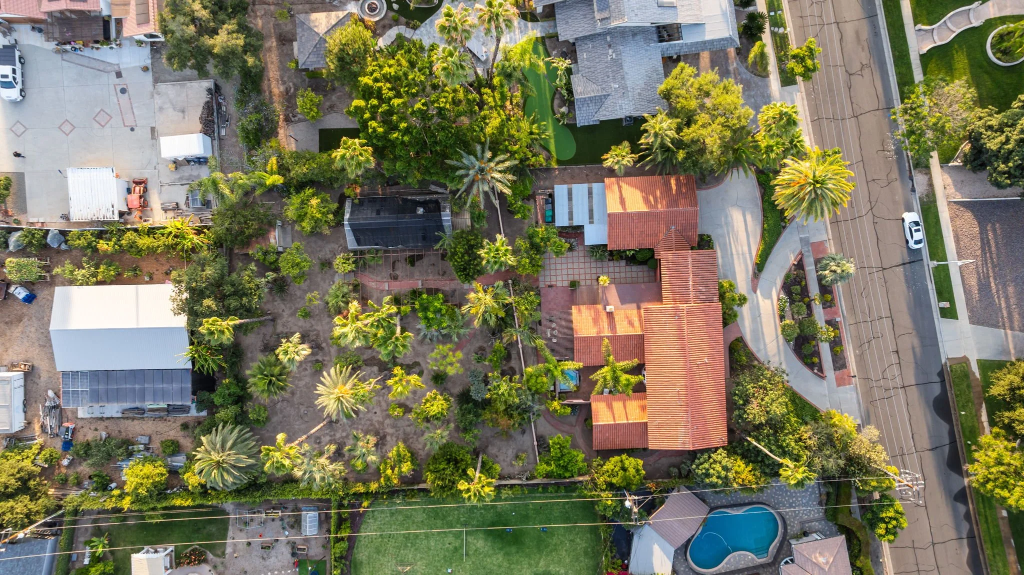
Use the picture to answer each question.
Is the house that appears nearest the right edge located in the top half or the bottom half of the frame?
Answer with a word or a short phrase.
bottom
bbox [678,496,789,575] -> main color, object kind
blue swimming pool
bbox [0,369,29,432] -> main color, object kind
white trailer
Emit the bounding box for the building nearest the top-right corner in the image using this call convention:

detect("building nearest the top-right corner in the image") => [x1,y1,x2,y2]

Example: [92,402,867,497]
[533,0,741,127]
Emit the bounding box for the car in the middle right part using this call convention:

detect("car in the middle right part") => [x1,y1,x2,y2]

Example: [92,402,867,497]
[902,211,925,250]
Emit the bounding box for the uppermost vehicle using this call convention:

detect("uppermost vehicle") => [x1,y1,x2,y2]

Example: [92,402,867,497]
[0,44,25,104]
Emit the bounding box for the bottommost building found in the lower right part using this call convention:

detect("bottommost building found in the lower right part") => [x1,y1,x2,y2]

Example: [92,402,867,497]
[772,532,851,575]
